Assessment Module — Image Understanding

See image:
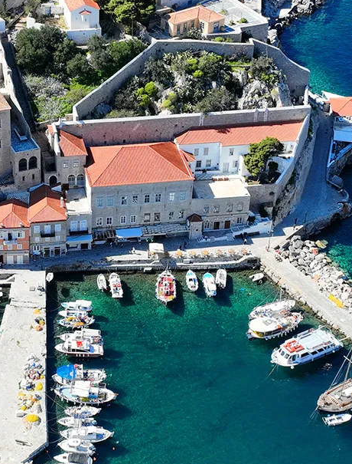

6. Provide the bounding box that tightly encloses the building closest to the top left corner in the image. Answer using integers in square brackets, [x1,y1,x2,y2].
[59,0,102,43]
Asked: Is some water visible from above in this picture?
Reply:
Yes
